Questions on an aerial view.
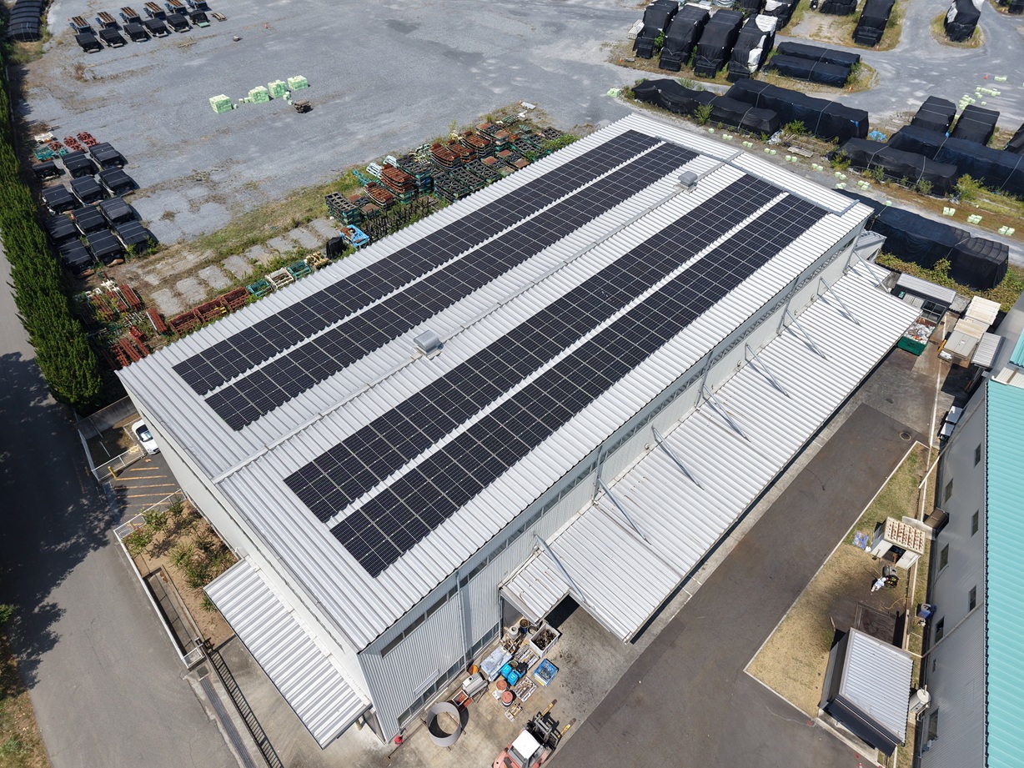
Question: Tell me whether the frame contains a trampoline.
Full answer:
No, I can't see a single trampoline in this photo.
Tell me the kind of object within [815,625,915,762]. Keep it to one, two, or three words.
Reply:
shed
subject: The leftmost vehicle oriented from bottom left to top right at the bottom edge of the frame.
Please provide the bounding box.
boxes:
[493,700,576,768]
